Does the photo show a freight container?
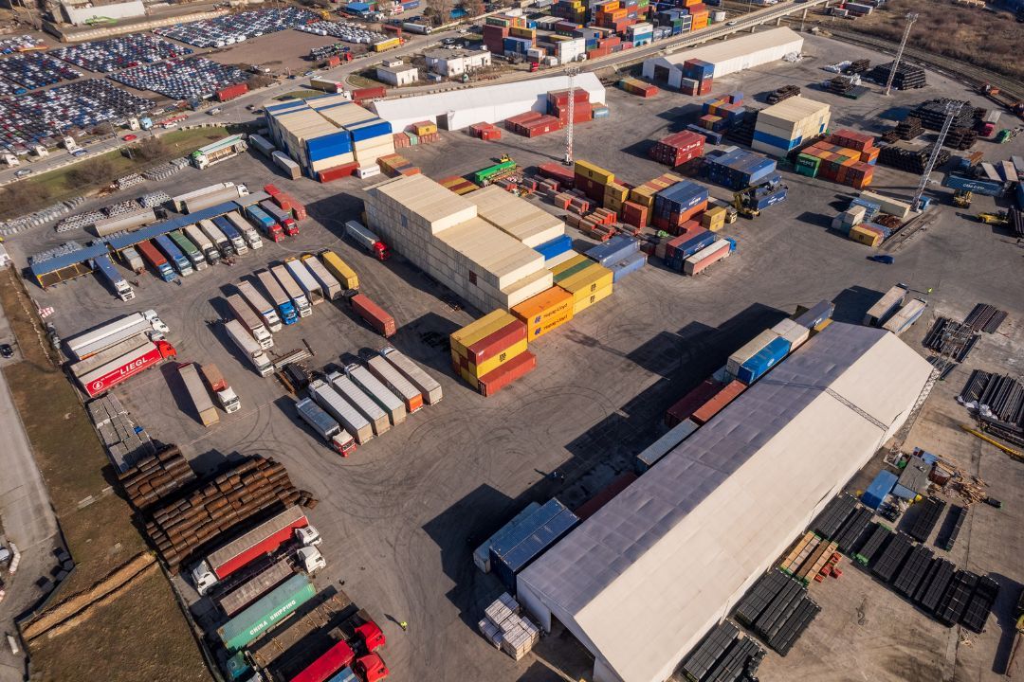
Yes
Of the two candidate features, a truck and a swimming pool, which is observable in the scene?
truck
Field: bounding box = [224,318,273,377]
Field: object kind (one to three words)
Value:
truck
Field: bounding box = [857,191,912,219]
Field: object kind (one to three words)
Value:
shipping container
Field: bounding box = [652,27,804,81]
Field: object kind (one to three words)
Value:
building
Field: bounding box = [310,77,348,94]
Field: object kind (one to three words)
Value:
vehicle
